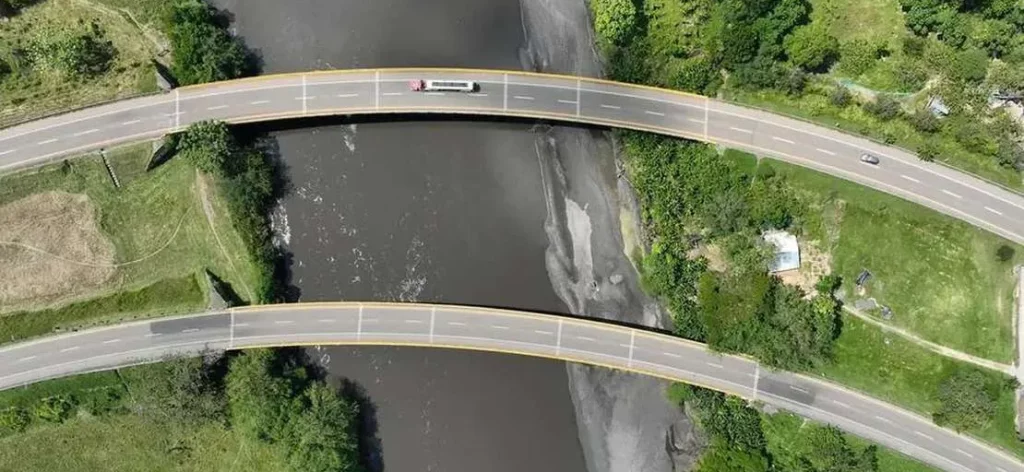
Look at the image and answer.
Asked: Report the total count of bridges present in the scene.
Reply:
two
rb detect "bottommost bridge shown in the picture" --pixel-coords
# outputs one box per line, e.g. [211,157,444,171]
[206,273,781,418]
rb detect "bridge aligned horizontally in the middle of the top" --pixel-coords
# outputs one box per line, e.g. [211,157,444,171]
[149,63,721,176]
